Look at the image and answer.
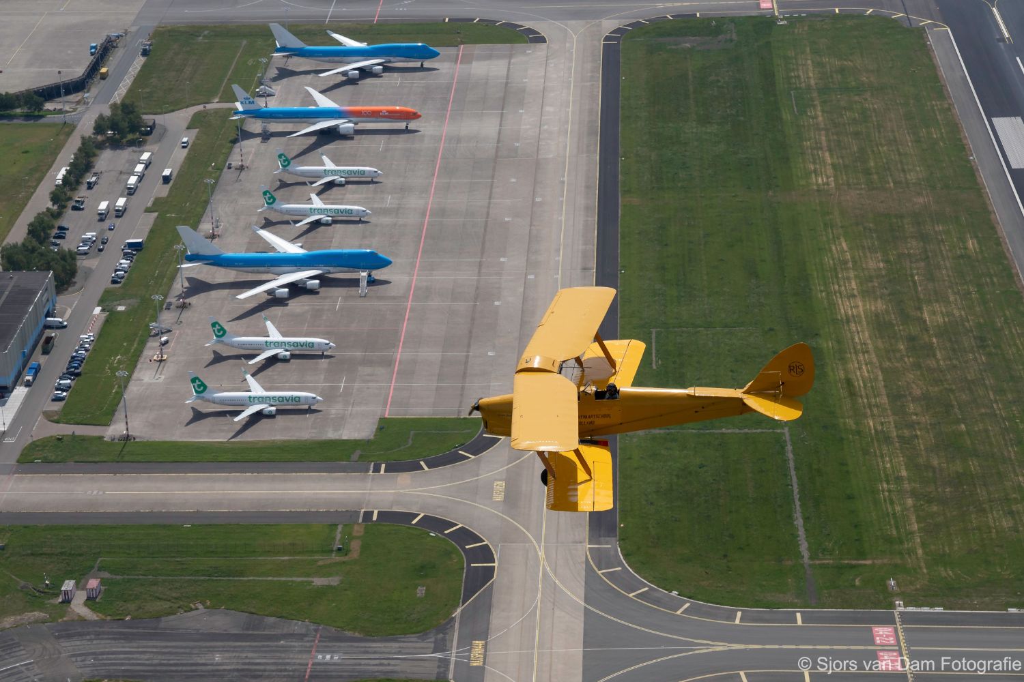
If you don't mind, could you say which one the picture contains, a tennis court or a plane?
plane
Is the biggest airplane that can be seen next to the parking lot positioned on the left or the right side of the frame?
left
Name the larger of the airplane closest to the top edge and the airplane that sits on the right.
the airplane that sits on the right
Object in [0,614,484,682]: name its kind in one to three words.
runway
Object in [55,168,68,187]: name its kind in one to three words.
vehicle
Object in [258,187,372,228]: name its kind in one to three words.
airplane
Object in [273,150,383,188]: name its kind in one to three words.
airplane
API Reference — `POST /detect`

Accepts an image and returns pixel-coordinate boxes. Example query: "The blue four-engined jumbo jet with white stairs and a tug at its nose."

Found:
[172,224,391,299]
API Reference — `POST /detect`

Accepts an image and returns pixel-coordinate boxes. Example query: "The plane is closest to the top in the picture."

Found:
[266,23,441,78]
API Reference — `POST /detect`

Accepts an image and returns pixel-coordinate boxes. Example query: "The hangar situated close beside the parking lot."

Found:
[0,266,56,392]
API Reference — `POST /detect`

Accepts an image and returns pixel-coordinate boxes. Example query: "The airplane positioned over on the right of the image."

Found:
[470,282,815,511]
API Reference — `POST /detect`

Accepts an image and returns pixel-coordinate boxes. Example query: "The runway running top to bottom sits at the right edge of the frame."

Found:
[938,0,1024,211]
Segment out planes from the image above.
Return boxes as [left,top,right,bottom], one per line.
[266,23,441,78]
[172,224,391,299]
[206,315,336,365]
[258,187,372,228]
[227,84,423,138]
[273,150,383,188]
[470,282,815,511]
[186,367,323,422]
